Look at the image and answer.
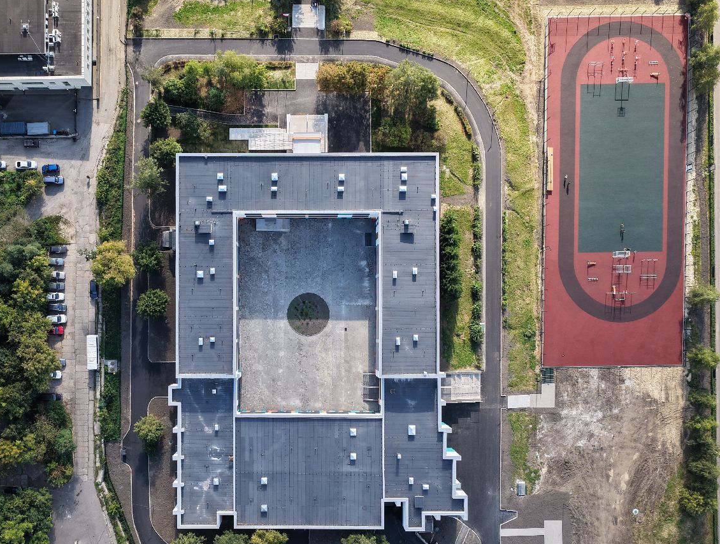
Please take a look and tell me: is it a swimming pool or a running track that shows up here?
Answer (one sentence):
This aerial view contains a running track.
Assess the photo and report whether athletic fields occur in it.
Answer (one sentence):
Yes, looking at the shot, I can spot an athletic field.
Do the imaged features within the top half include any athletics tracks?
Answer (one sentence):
Yes, an athletics track shows up within the top half.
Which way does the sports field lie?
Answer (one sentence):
The sports field is oriented up and down.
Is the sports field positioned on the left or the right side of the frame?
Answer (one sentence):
The sports field sits on the right side.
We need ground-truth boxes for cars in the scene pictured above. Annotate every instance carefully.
[89,281,99,299]
[49,270,68,280]
[0,160,7,169]
[54,358,68,366]
[48,256,67,266]
[15,159,37,170]
[43,176,65,185]
[47,314,68,324]
[47,292,68,301]
[41,162,61,173]
[46,327,67,335]
[47,304,69,312]
[43,370,63,378]
[46,281,67,291]
[48,244,70,254]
